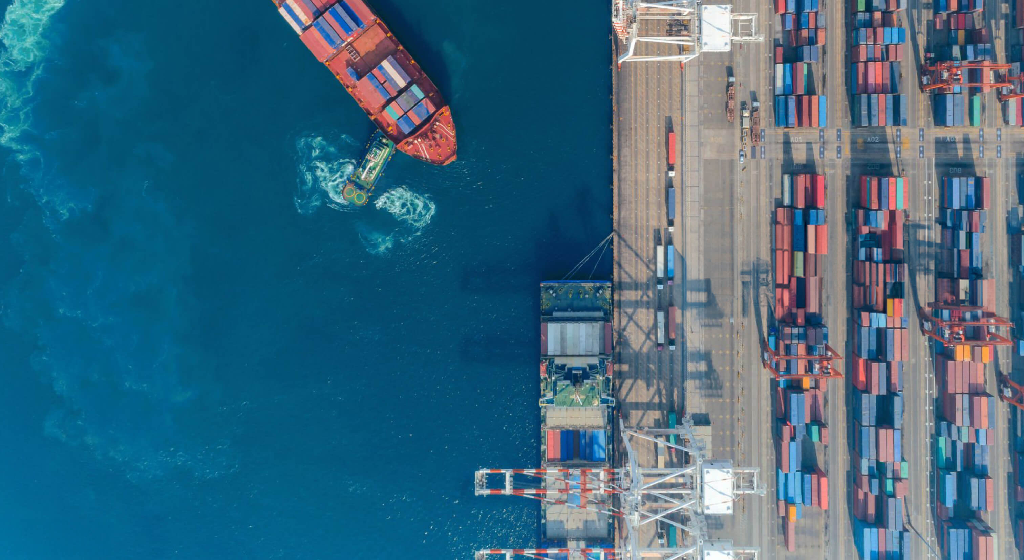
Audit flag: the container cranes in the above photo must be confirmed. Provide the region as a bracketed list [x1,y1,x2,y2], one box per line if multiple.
[611,0,769,73]
[1004,372,1024,411]
[922,59,1012,94]
[475,478,759,560]
[475,407,769,527]
[923,305,1014,347]
[764,337,846,380]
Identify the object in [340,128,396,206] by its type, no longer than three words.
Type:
boat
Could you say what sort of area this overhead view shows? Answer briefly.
port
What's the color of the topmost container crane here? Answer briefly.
white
